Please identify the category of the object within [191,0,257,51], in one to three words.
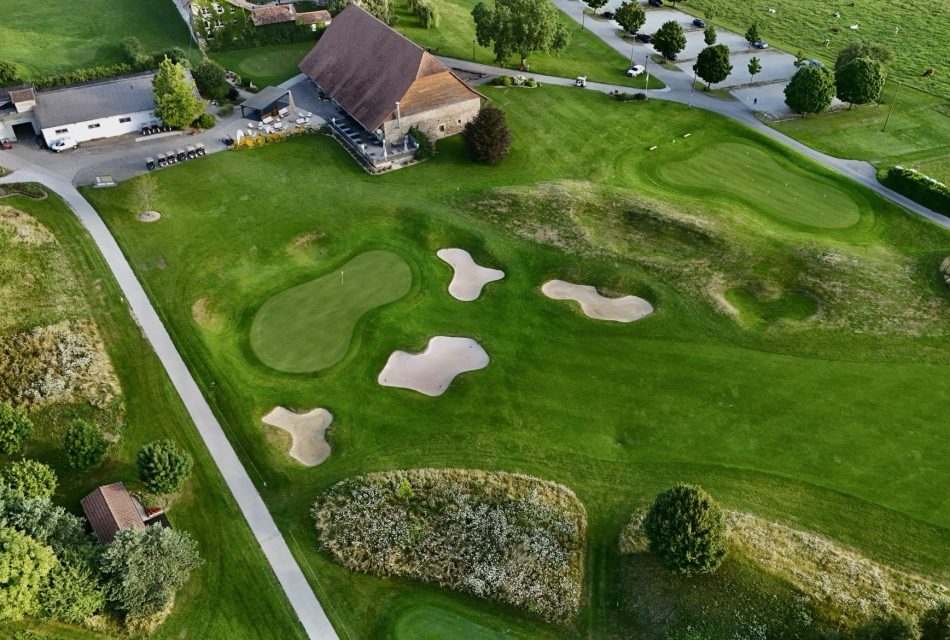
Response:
house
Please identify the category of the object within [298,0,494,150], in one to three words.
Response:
barn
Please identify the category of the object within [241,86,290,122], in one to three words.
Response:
building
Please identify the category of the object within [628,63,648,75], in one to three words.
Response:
vehicle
